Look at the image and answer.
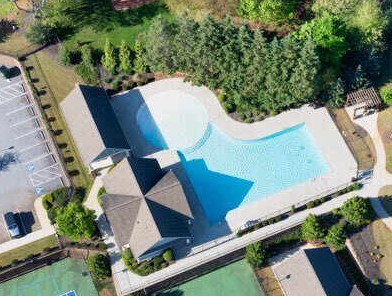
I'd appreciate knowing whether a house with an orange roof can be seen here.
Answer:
No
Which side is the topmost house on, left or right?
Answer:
left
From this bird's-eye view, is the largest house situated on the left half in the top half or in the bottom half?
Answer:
bottom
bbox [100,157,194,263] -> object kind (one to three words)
house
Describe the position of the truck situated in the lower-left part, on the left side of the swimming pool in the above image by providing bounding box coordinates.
[1,210,22,240]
